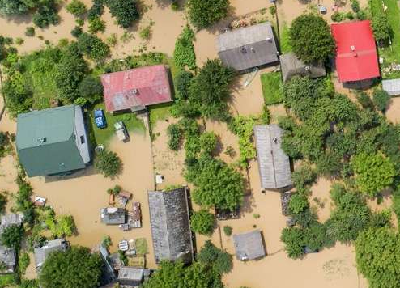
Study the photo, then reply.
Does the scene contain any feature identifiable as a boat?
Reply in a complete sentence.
No, there's no boat here.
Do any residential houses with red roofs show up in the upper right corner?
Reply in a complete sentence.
Yes, there is a residential house with a red roof in the upper right corner.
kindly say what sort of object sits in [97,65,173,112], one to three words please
house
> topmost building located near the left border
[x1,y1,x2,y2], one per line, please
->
[11,104,90,177]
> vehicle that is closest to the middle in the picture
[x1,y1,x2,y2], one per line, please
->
[115,121,129,140]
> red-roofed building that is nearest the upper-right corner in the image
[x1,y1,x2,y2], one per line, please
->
[332,19,379,87]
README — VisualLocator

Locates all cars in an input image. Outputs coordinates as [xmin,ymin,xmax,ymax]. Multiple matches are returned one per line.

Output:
[115,121,129,140]
[94,109,106,128]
